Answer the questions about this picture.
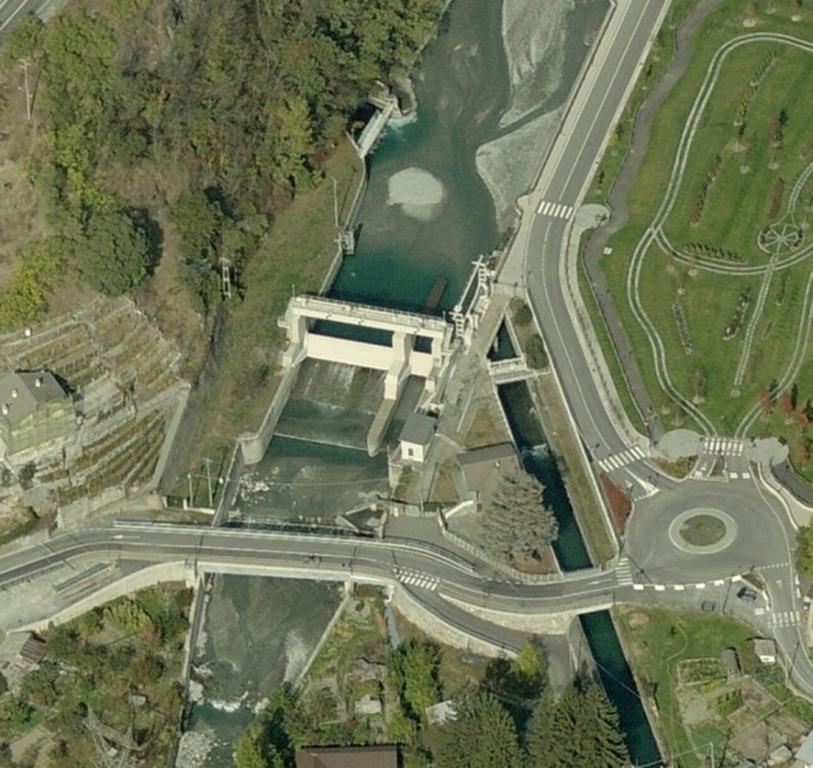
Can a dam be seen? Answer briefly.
Yes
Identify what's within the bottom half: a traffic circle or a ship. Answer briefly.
traffic circle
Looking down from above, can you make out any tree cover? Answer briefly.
Yes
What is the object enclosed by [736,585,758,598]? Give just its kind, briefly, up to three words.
vehicle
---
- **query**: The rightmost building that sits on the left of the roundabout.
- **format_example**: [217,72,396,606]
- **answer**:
[456,450,530,508]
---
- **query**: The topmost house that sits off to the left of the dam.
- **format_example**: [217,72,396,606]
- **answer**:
[0,361,68,457]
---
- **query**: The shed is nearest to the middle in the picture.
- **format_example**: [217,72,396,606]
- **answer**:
[396,415,433,470]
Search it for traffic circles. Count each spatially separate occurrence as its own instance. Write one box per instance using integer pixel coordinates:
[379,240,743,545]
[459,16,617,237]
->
[616,455,791,592]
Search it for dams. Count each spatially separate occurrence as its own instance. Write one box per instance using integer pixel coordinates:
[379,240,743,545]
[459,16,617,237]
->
[276,287,458,461]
